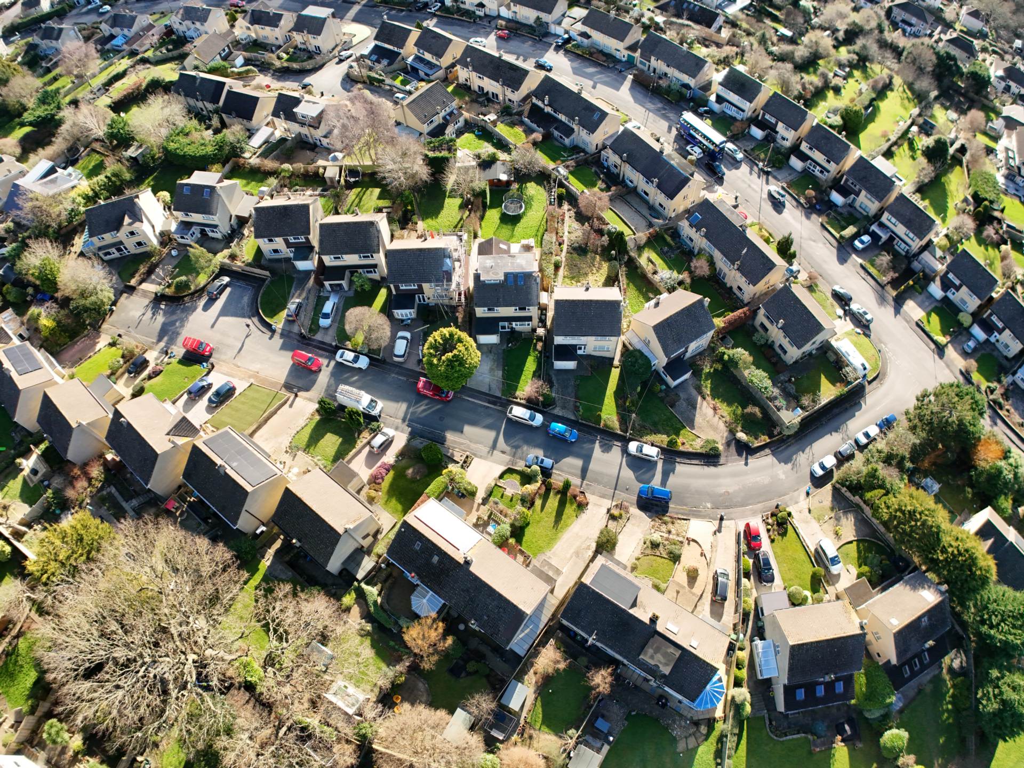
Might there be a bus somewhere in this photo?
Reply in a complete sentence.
Yes, the frame does contain a bus.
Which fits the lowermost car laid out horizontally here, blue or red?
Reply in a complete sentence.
The color of the lowermost car laid out horizontally is blue.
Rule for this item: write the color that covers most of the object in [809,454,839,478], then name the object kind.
white car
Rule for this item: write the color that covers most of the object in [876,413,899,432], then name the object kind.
blue vehicle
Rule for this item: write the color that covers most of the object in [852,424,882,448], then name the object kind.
white car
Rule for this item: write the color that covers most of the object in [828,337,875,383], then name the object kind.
white camper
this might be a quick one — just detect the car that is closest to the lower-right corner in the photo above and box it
[815,537,842,576]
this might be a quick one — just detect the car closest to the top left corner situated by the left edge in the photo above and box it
[8,32,25,45]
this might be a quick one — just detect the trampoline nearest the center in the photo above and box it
[502,188,524,214]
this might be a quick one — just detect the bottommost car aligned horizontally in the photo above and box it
[638,485,673,505]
